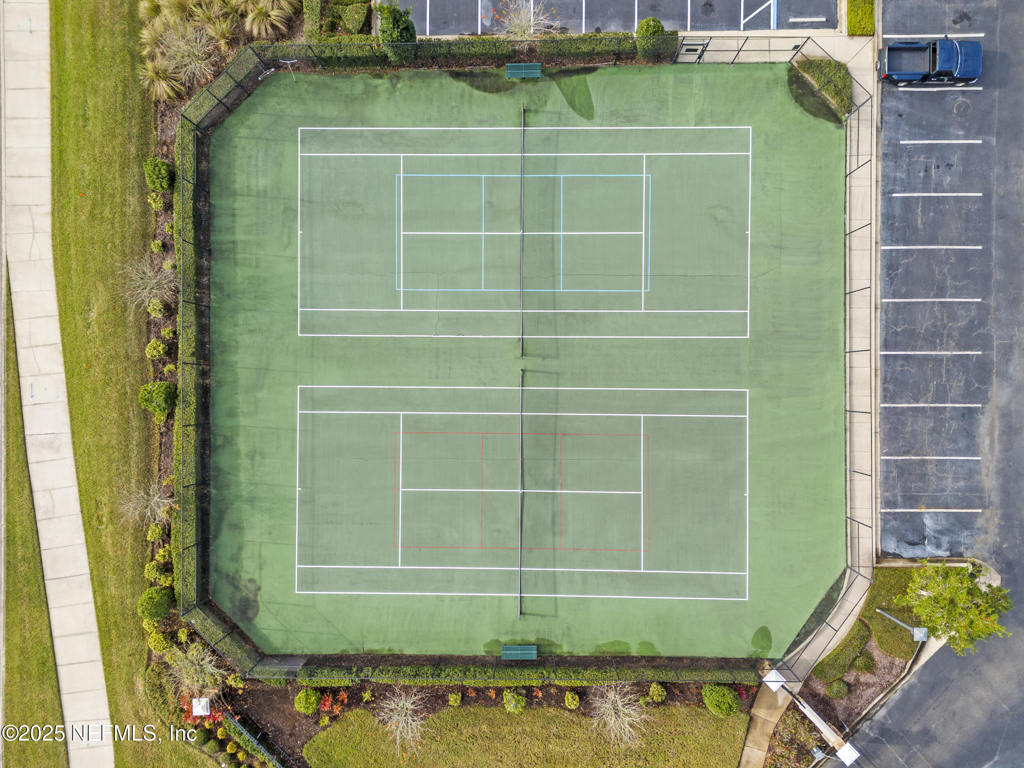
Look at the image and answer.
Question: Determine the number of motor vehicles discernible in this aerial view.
one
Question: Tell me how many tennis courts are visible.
2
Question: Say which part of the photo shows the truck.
top right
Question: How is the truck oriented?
from left to right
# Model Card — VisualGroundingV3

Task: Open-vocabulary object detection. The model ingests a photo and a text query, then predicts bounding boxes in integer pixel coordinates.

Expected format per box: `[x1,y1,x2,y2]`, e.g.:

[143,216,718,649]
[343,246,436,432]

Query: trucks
[875,36,982,85]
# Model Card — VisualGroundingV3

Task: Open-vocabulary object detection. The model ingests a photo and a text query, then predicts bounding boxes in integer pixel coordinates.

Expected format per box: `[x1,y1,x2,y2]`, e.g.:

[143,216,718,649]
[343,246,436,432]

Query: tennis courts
[298,126,751,338]
[296,385,749,600]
